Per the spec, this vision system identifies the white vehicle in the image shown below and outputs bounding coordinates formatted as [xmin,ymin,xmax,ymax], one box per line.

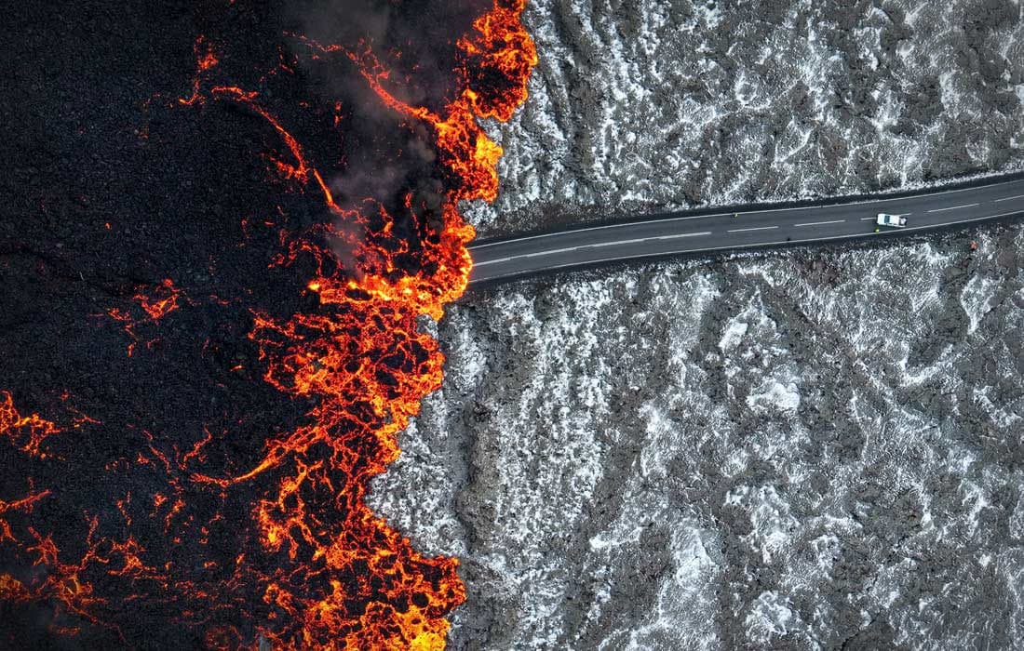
[876,215,908,227]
